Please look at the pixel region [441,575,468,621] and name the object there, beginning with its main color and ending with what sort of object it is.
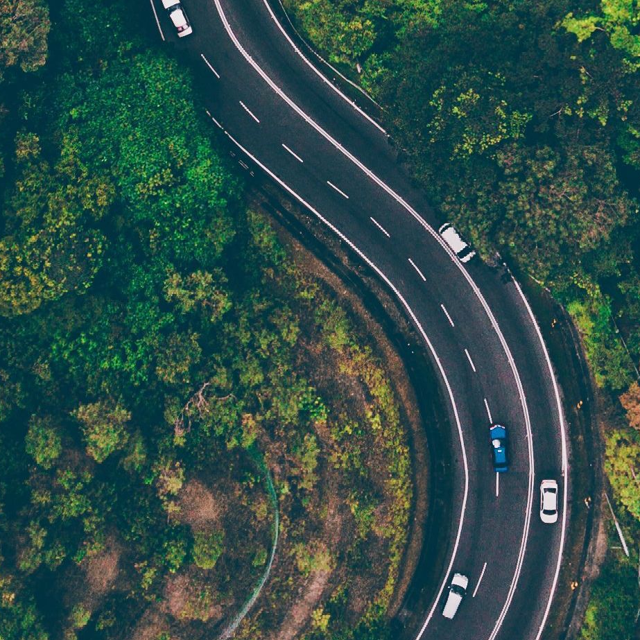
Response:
white car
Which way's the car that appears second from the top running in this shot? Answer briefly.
diagonally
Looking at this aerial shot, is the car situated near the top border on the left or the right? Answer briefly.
left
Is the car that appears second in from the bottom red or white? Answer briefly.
white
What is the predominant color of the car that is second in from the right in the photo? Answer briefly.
blue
